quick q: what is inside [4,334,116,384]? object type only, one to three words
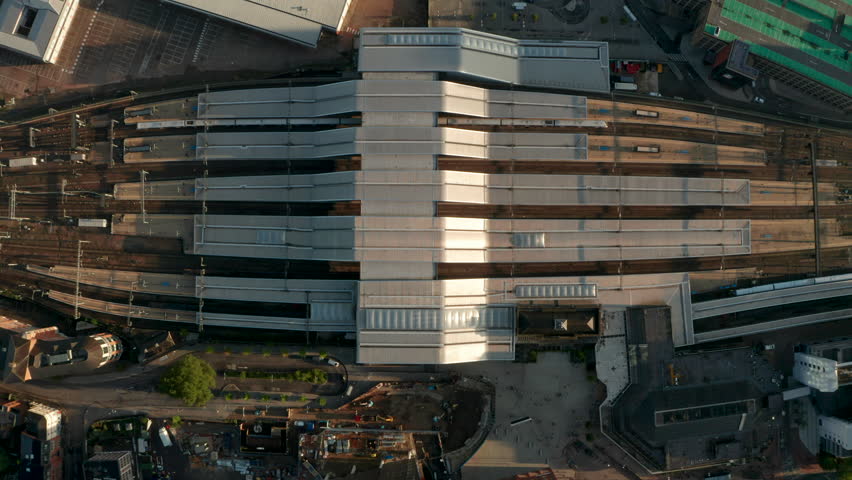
building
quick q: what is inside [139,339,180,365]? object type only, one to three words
shed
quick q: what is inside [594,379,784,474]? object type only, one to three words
building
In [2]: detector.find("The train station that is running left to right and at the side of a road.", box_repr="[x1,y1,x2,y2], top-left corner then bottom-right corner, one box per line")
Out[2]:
[27,27,852,364]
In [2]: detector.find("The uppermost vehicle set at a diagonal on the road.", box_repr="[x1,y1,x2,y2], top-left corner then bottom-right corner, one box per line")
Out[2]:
[622,2,638,20]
